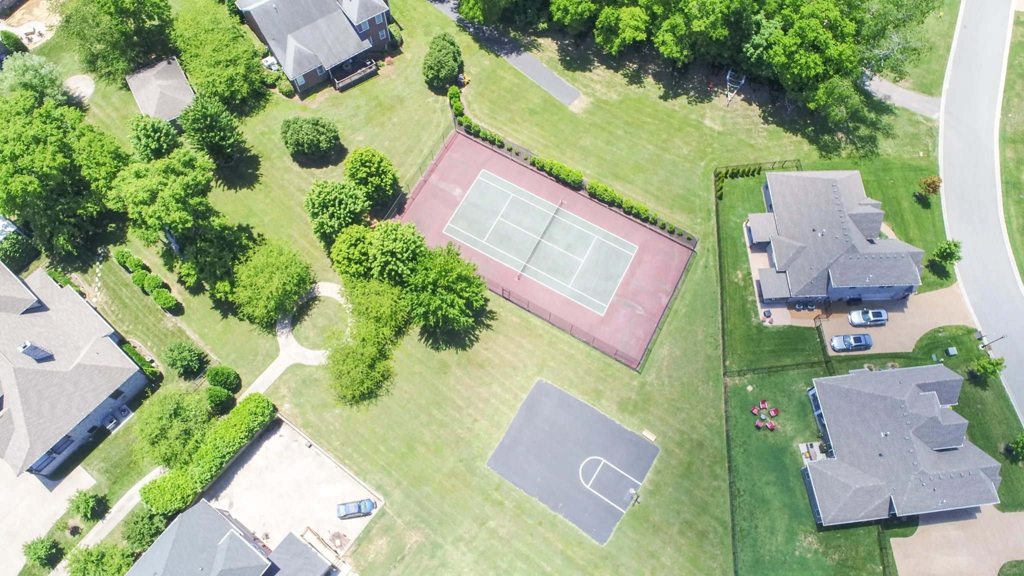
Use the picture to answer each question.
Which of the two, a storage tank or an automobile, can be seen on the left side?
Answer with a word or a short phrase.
automobile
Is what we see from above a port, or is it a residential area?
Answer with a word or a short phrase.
residential area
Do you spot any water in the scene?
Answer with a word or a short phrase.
No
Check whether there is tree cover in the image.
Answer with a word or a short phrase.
Yes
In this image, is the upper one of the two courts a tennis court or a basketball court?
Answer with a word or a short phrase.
tennis court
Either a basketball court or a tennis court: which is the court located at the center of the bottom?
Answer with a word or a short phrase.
basketball court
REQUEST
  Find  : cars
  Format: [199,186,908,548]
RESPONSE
[336,497,378,519]
[830,333,873,351]
[847,308,889,327]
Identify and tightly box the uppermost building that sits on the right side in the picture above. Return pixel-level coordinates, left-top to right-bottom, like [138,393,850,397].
[743,170,925,304]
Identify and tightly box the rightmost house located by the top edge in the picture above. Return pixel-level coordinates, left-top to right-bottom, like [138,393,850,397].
[234,0,393,94]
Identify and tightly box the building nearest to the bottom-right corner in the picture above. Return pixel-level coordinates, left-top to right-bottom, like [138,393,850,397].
[802,363,1002,527]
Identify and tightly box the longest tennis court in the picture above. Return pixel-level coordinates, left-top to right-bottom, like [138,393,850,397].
[381,129,695,372]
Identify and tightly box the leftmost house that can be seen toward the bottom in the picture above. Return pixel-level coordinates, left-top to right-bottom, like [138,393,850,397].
[0,259,147,478]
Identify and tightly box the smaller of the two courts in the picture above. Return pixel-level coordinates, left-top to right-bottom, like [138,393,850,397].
[489,381,659,544]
